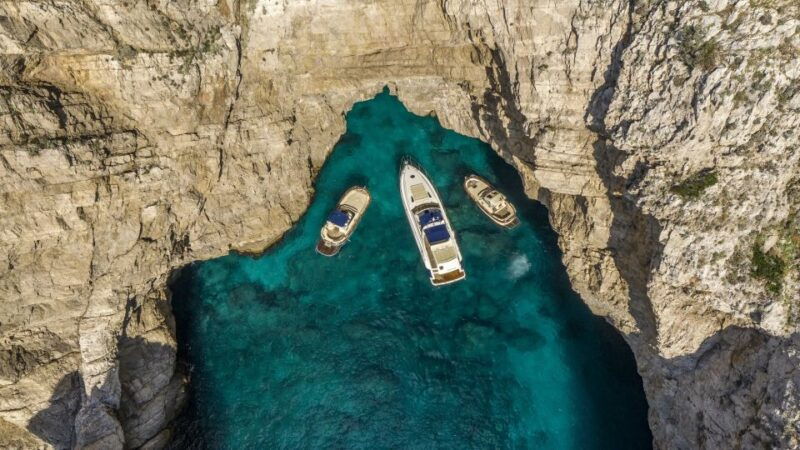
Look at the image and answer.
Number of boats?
three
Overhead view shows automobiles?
No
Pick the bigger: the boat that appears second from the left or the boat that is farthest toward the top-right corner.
the boat that appears second from the left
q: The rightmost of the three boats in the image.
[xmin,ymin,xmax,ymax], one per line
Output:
[463,174,520,230]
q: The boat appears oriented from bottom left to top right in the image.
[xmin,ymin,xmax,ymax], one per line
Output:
[314,185,370,259]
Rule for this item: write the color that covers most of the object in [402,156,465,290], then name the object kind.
white boat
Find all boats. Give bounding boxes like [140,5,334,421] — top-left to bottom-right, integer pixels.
[314,185,370,259]
[463,174,520,230]
[402,156,465,290]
